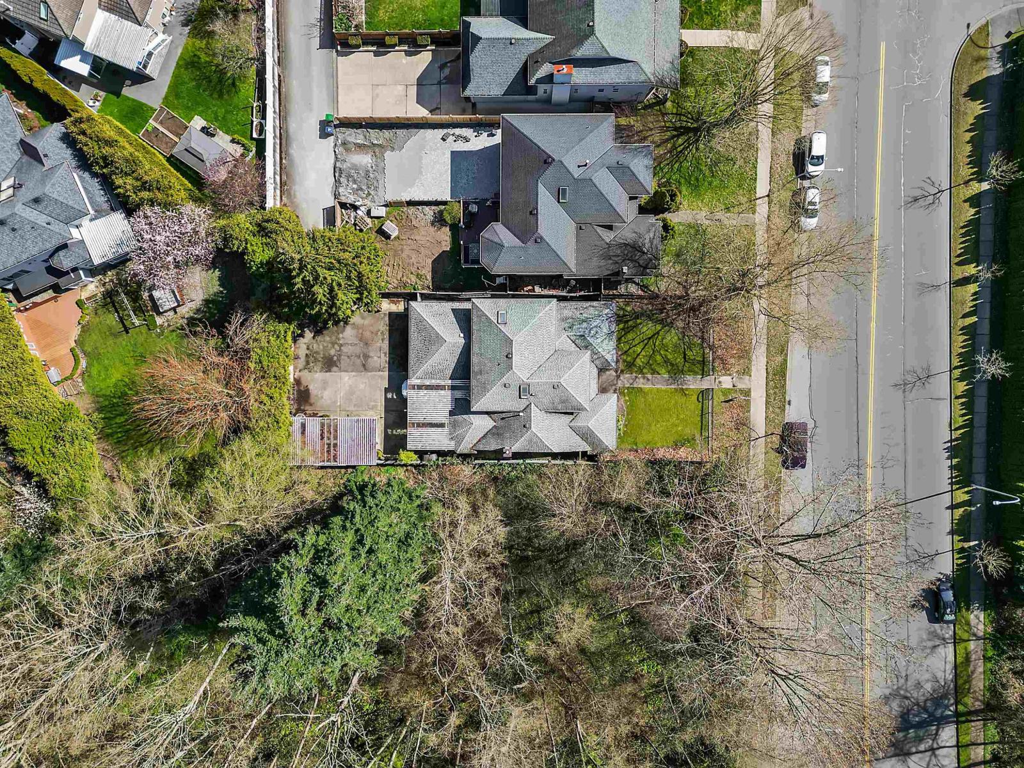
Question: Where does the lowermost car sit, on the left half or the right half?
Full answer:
The lowermost car appears in the right half of the scene.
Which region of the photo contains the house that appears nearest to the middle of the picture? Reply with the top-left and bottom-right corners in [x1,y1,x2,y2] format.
[408,297,618,457]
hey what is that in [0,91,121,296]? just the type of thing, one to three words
house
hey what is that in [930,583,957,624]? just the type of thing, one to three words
car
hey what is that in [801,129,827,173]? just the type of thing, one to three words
car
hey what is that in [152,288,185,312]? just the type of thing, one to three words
shed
